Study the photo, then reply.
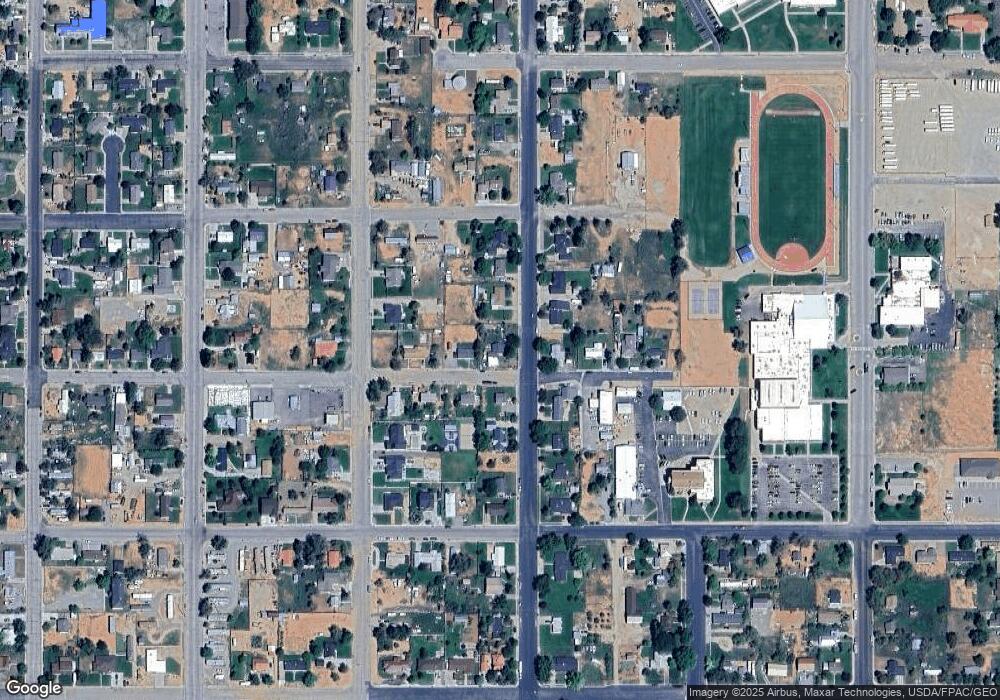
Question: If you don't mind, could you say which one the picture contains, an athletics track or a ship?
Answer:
athletics track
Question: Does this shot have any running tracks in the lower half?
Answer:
No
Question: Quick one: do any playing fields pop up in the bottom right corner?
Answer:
No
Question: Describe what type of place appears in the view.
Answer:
residential area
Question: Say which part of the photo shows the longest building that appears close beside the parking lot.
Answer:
right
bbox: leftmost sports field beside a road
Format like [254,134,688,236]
[681,76,750,266]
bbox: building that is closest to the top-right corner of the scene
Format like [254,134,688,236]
[948,14,988,31]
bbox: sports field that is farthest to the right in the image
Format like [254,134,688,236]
[760,94,825,259]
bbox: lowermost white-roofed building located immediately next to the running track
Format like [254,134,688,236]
[751,294,835,440]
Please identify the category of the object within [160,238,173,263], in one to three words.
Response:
house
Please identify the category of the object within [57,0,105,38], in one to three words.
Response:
building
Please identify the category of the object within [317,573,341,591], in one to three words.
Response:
house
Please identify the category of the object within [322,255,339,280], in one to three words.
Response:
building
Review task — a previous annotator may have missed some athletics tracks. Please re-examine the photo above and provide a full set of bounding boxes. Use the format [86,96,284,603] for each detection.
[750,85,835,272]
